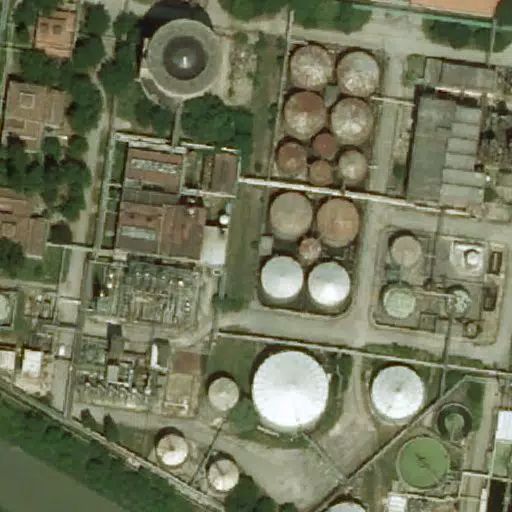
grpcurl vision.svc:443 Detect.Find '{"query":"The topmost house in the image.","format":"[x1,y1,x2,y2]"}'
[34,9,77,59]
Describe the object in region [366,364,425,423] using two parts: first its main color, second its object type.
white storage tank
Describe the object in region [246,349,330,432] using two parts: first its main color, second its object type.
white storage tank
